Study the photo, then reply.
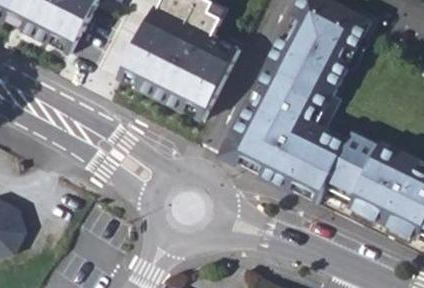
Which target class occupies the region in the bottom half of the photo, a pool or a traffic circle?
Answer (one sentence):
The one visible in the bottom half of the photo is a traffic circle.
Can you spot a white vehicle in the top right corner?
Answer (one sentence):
No, looking in the top right corner, there is no white vehicle.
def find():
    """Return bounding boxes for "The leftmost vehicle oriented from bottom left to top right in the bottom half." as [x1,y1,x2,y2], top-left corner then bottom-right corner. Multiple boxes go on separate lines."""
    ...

[75,260,93,284]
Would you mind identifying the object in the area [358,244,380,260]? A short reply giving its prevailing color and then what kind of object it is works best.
white car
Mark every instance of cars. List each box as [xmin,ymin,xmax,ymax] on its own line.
[90,28,106,48]
[60,193,84,210]
[281,228,305,244]
[358,244,380,260]
[96,276,110,288]
[102,218,119,240]
[312,223,334,238]
[50,205,72,221]
[74,58,96,73]
[75,260,93,284]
